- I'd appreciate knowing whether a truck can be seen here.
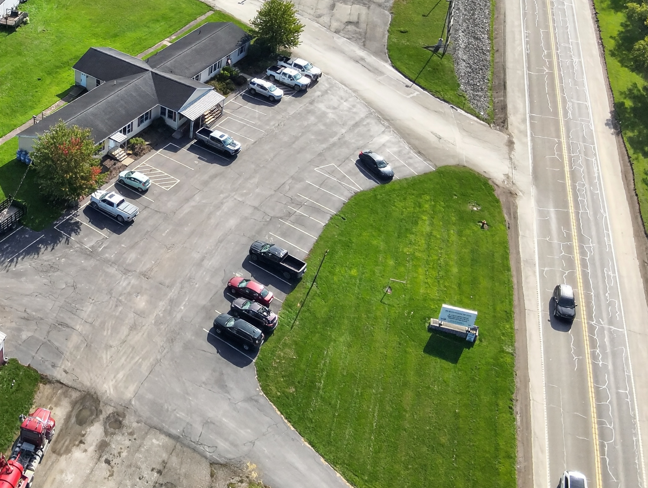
Yes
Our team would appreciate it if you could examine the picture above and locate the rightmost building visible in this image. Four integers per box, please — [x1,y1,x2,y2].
[16,21,252,156]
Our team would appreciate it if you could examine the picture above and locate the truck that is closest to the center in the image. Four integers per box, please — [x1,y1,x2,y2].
[247,246,310,283]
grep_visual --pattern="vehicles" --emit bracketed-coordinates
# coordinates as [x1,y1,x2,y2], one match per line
[115,169,154,194]
[556,468,586,488]
[354,152,396,183]
[247,246,310,283]
[0,197,31,236]
[276,53,322,79]
[13,402,66,488]
[87,193,142,228]
[192,125,244,158]
[246,75,284,102]
[227,301,282,335]
[549,281,579,328]
[224,280,279,309]
[263,63,310,91]
[211,319,267,354]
